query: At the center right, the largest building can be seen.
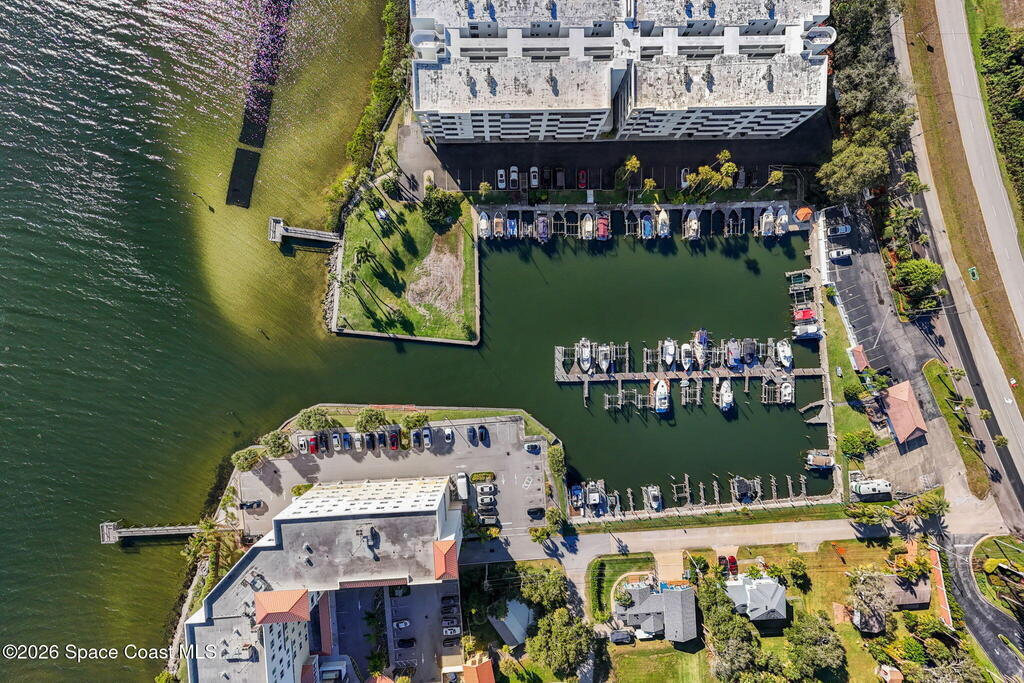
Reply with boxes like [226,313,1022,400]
[880,380,927,443]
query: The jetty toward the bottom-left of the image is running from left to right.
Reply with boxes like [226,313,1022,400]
[97,519,210,546]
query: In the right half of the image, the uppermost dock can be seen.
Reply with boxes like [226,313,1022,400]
[470,204,793,237]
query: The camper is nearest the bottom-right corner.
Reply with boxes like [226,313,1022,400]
[847,480,894,496]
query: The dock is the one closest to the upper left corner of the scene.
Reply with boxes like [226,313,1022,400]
[266,216,344,245]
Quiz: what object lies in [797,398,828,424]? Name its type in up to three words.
pier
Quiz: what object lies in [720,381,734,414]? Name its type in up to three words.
boat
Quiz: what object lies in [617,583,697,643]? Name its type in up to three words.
house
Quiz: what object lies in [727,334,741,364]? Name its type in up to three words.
boat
